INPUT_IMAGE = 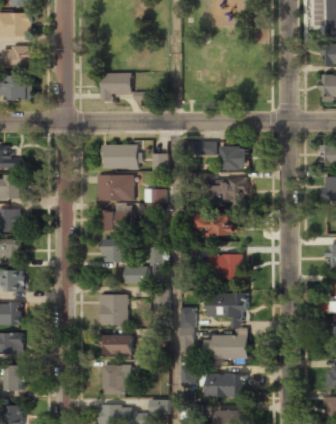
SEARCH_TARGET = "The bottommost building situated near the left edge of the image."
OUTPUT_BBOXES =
[6,406,24,424]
